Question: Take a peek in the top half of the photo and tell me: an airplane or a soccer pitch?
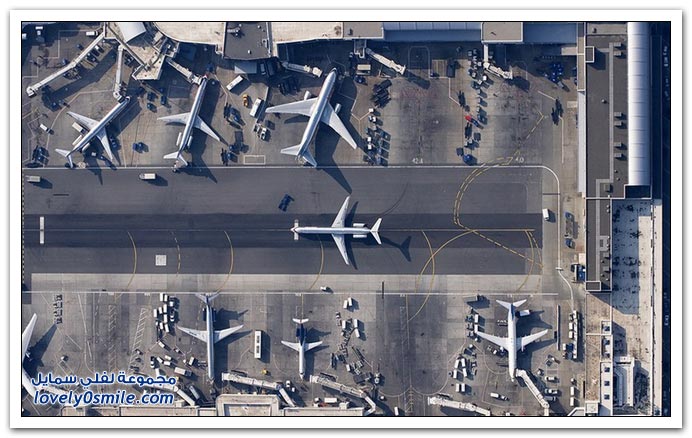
airplane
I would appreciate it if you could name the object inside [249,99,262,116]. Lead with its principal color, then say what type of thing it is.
white vehicle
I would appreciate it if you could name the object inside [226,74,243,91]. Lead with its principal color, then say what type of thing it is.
white vehicle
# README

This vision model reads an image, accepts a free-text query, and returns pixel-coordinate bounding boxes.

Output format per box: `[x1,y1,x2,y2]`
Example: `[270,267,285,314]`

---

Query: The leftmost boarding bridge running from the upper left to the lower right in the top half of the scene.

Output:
[164,58,203,83]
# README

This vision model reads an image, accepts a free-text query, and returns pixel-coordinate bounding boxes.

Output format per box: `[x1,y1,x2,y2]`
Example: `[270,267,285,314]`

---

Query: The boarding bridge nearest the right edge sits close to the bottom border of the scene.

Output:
[513,370,550,424]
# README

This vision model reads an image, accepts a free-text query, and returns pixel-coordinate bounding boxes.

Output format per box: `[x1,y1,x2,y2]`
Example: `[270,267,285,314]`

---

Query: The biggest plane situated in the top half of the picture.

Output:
[266,68,355,162]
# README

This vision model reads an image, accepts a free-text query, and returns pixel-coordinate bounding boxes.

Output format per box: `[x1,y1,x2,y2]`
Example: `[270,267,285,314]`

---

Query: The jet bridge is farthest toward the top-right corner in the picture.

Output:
[483,60,514,80]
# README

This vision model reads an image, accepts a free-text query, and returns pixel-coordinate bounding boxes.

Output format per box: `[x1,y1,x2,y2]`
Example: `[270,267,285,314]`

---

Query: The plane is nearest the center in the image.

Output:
[291,197,382,264]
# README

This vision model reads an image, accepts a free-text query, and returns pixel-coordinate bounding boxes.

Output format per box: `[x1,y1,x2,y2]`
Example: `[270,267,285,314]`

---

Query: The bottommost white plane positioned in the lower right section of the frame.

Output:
[477,304,547,383]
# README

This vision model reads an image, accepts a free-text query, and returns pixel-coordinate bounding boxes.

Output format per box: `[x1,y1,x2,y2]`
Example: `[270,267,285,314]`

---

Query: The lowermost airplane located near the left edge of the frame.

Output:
[0,314,42,400]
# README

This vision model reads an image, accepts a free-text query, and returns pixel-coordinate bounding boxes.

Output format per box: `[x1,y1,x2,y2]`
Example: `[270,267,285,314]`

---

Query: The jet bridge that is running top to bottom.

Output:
[113,43,125,99]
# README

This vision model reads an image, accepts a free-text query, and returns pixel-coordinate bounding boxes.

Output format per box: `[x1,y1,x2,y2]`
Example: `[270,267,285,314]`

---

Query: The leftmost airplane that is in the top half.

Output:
[55,97,131,168]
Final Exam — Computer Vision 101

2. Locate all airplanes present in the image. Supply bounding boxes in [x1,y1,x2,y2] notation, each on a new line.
[176,292,242,379]
[266,68,355,162]
[282,322,322,379]
[156,76,219,165]
[0,314,42,400]
[291,197,382,264]
[477,304,547,383]
[55,97,131,168]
